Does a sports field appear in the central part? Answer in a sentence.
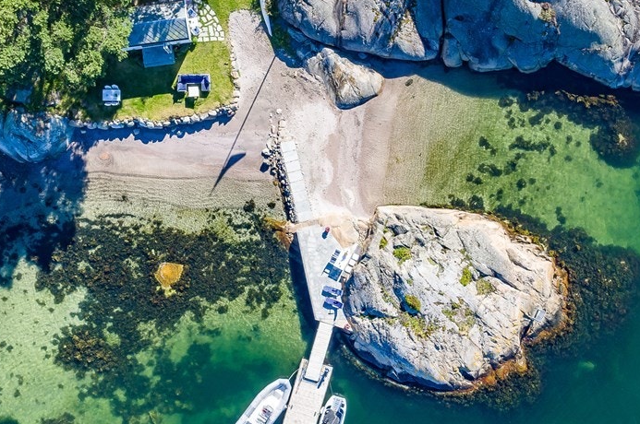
No, there's no sports field to be seen in the central part.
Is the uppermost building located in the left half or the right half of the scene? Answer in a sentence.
The uppermost building is on the left side of the image.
